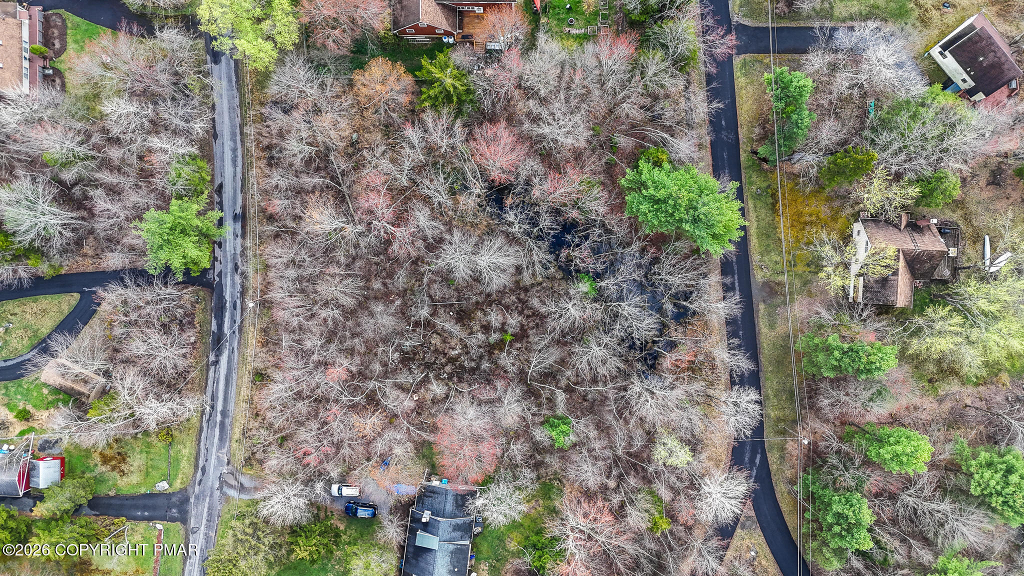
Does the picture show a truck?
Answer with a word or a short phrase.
No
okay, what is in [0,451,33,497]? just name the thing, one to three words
house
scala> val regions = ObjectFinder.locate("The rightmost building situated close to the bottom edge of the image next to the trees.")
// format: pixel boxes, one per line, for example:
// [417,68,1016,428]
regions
[401,471,486,576]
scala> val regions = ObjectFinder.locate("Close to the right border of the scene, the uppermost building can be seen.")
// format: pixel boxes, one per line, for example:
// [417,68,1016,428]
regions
[930,12,1024,108]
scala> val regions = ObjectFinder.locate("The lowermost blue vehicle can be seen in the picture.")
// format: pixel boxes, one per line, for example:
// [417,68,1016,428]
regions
[345,500,378,516]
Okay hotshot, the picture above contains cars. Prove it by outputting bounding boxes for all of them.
[331,482,360,497]
[345,500,378,516]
